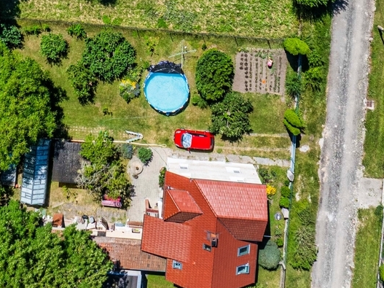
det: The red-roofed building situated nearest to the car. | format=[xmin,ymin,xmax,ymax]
[140,153,268,288]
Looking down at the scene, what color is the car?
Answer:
red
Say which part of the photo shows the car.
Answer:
center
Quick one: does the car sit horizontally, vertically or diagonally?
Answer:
horizontally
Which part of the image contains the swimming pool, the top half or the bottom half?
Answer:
top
